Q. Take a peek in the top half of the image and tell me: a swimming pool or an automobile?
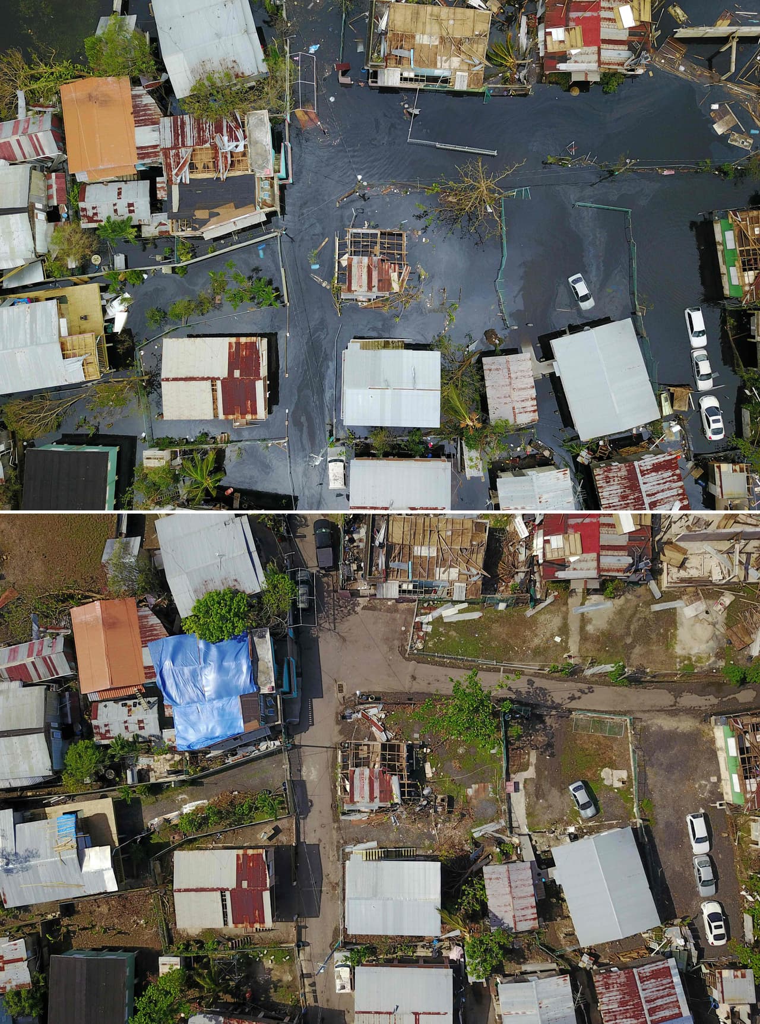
automobile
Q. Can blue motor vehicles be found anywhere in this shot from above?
No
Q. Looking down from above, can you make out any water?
Yes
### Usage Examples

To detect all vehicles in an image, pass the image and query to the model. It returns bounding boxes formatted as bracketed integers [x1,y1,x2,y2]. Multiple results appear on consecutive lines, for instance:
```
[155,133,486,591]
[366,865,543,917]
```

[566,271,593,312]
[332,949,353,996]
[701,899,727,947]
[295,570,315,610]
[312,519,334,569]
[691,348,716,391]
[325,446,347,489]
[684,306,709,349]
[686,811,712,855]
[569,778,596,820]
[692,853,718,898]
[699,395,726,442]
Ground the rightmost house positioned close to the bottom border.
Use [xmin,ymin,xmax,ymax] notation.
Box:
[707,963,756,1017]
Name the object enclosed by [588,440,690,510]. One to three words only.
house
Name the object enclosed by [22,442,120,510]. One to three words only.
building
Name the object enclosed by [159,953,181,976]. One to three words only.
shed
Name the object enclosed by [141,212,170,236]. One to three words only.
shed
